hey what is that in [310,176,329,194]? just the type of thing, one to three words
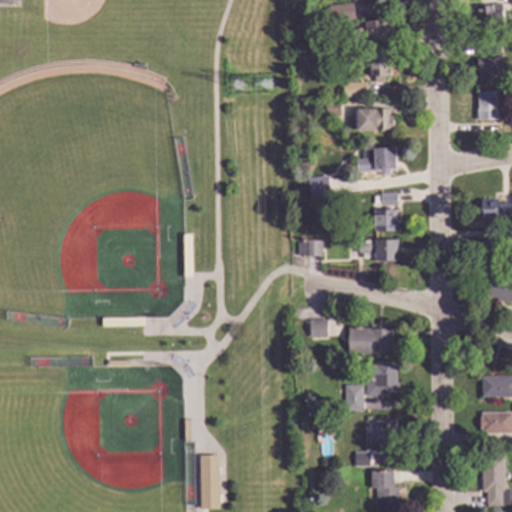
building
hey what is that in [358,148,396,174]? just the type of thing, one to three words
house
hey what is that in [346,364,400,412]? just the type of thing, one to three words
house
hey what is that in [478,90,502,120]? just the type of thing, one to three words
building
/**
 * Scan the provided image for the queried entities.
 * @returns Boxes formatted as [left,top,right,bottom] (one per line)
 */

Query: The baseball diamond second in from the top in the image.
[0,59,184,318]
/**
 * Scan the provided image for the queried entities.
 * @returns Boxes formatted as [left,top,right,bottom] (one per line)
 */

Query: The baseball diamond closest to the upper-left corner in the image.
[44,0,106,60]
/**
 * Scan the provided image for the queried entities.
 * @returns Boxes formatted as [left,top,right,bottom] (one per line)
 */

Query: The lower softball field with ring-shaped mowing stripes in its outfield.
[0,367,185,512]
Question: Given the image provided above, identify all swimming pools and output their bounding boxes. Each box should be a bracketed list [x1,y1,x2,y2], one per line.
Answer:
[316,432,334,458]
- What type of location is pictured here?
sports ground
